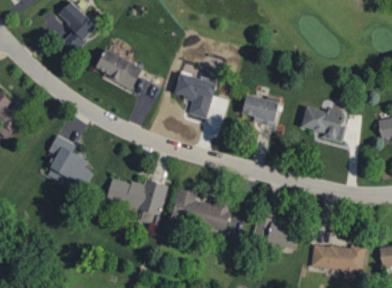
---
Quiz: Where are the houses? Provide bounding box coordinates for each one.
[175,73,217,122]
[244,93,280,131]
[47,132,96,184]
[95,51,144,91]
[378,118,392,140]
[300,104,349,146]
[173,186,240,232]
[0,93,16,139]
[250,220,298,255]
[104,177,167,224]
[312,243,366,270]
[379,246,392,264]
